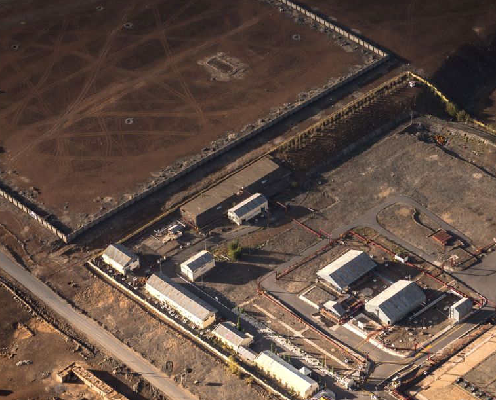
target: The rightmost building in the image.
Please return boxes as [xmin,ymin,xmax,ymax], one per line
[451,299,477,320]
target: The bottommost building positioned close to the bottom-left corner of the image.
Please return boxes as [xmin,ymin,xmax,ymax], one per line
[44,358,130,400]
